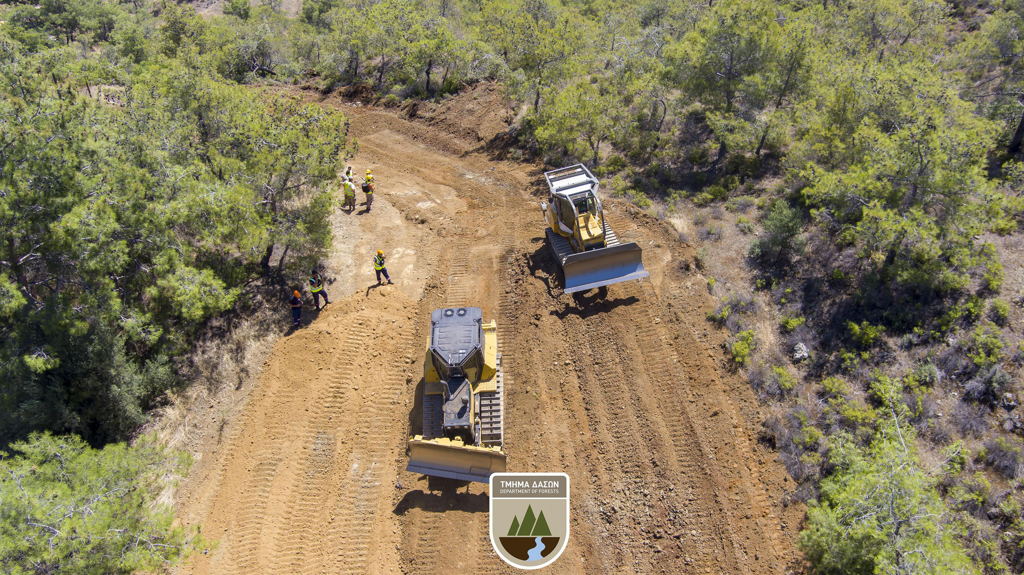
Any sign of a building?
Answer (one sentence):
No, the frame has no building in it.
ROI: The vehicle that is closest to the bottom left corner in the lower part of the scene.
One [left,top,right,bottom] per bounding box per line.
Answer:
[406,305,509,486]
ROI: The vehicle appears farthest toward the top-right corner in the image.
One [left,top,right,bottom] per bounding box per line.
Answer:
[532,161,649,297]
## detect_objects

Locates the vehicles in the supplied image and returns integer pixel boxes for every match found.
[406,305,509,486]
[532,161,649,297]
